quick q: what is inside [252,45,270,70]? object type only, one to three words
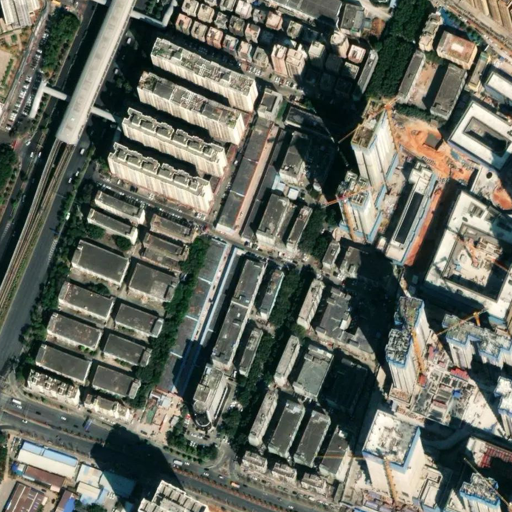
house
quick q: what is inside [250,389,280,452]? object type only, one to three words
building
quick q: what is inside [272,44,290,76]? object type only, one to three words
house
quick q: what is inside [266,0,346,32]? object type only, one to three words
shed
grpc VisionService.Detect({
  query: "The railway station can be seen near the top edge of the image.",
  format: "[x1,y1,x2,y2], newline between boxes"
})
[56,0,140,146]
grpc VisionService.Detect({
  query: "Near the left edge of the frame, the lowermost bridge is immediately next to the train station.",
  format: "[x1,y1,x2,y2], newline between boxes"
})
[0,140,75,314]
